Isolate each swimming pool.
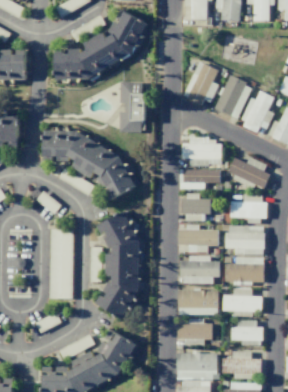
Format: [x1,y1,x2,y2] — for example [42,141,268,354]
[90,98,112,112]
